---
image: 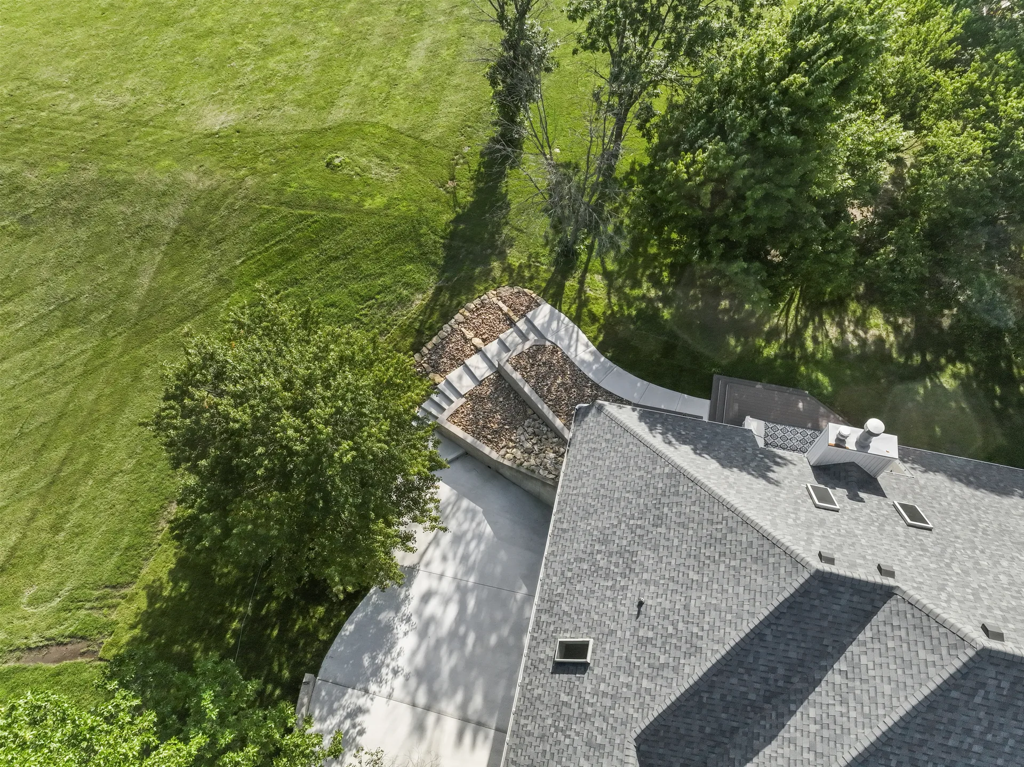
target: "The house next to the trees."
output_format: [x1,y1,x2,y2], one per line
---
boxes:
[500,398,1024,767]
